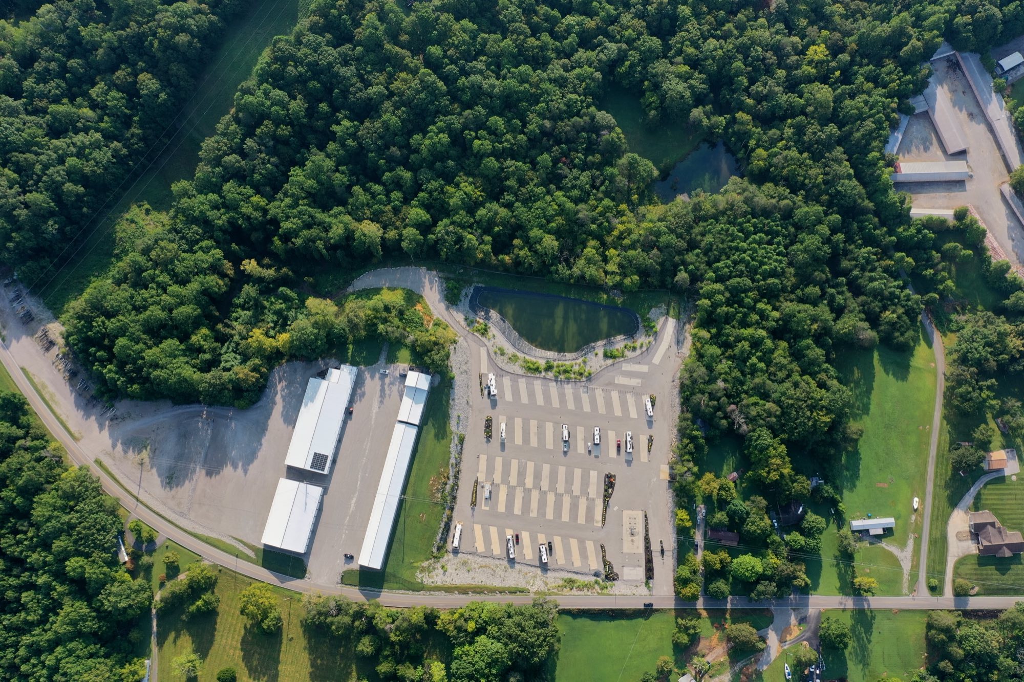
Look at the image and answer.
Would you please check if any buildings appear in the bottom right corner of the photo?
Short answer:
Yes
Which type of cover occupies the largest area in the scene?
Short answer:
trees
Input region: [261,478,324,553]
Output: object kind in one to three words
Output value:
building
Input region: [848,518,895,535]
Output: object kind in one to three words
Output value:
house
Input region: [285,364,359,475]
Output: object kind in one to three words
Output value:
building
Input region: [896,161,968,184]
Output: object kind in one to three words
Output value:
barn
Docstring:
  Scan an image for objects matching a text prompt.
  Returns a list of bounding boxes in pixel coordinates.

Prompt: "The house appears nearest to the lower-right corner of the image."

[967,512,1024,557]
